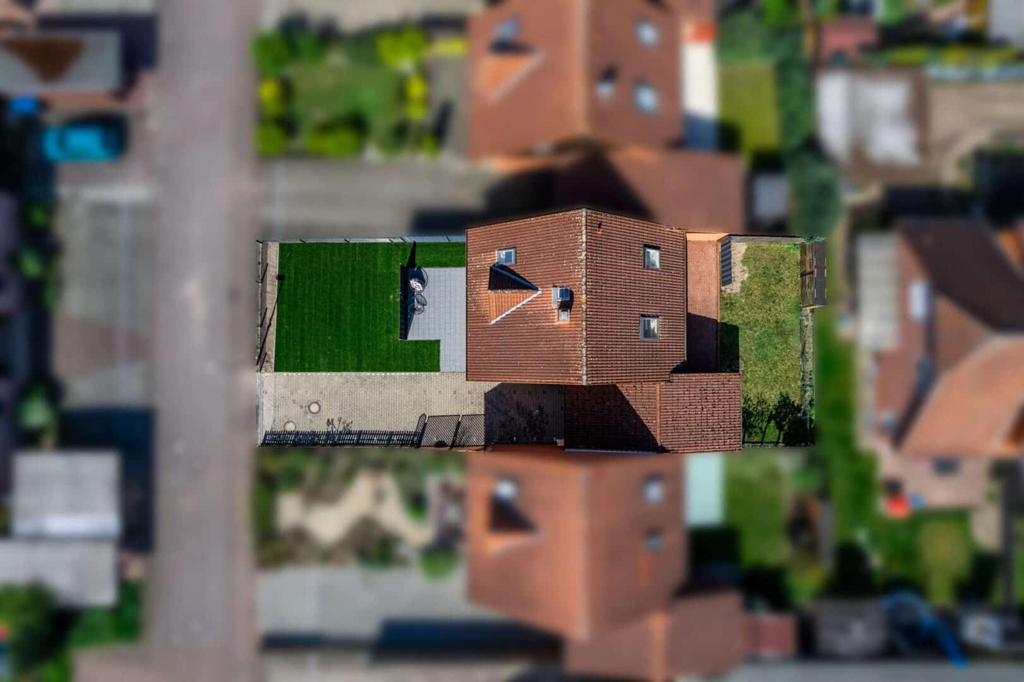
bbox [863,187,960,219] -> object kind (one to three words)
shed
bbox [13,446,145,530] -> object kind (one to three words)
building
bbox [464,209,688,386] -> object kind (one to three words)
house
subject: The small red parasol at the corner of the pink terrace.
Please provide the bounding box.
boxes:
[880,491,911,517]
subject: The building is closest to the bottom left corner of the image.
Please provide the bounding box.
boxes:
[0,531,138,602]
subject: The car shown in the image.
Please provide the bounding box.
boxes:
[48,124,122,163]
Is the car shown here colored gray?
No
